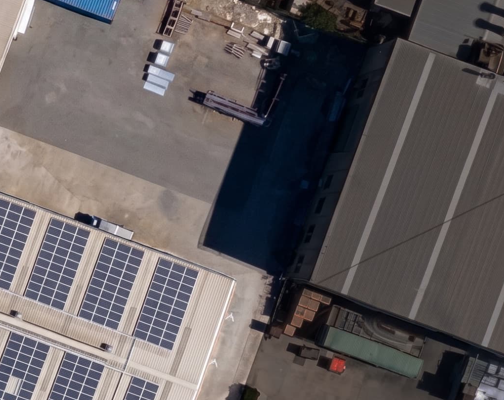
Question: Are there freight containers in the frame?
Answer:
Yes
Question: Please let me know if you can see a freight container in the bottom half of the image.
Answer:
Yes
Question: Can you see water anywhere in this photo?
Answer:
No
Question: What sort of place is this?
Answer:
industrial area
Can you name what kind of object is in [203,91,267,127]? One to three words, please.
trailer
